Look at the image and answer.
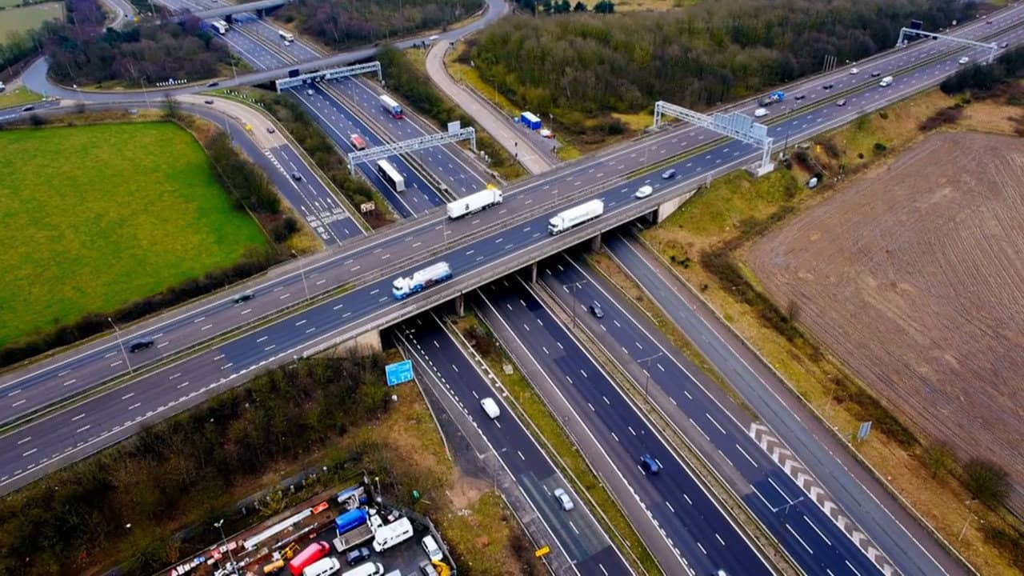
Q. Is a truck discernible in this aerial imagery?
Yes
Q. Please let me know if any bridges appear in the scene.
Yes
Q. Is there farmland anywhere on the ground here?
Yes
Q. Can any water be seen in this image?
No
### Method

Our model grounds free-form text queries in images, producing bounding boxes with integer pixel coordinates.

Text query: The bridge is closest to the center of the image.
[231,142,706,366]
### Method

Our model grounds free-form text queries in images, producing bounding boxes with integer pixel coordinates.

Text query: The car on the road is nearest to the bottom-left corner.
[128,338,154,352]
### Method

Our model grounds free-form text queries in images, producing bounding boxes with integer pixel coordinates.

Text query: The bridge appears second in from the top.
[248,48,374,88]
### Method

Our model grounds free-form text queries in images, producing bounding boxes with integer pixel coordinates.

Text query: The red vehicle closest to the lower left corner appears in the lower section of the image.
[288,548,332,576]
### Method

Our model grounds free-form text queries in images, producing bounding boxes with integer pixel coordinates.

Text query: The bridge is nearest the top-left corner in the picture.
[179,0,281,24]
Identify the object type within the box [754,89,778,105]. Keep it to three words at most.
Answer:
vehicle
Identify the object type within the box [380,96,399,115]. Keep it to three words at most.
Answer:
vehicle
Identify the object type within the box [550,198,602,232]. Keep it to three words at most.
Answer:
truck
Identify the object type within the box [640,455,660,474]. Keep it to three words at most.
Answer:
car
